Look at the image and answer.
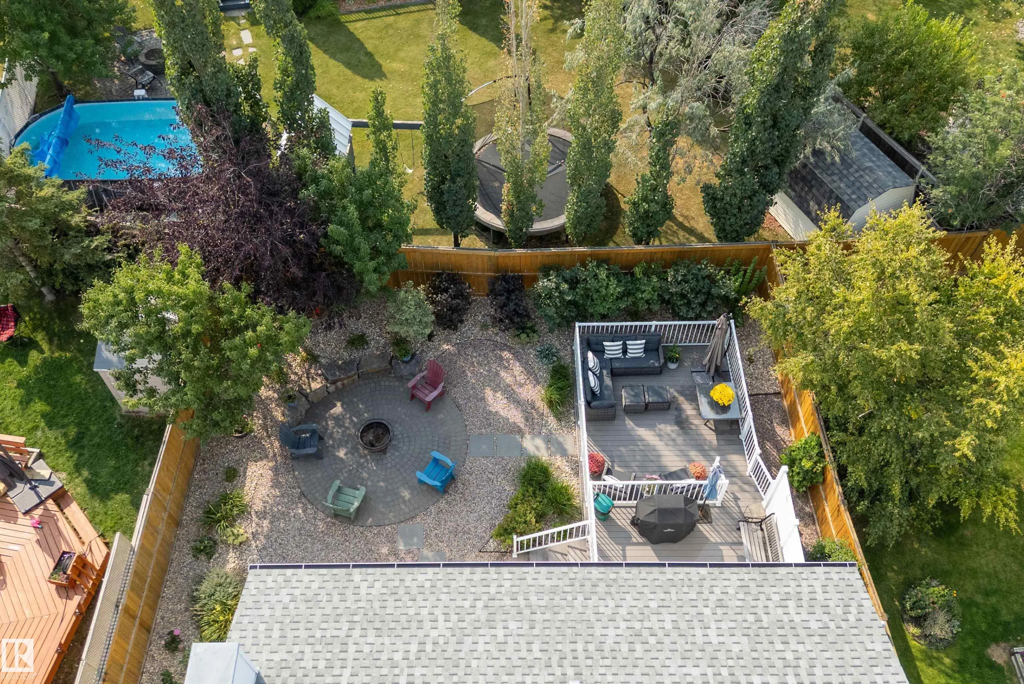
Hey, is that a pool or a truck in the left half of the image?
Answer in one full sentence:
It is a pool that can be seen in the left half of the image.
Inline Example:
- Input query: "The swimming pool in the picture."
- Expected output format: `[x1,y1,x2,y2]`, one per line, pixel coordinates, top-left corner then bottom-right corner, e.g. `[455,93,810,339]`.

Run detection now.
[6,96,235,213]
